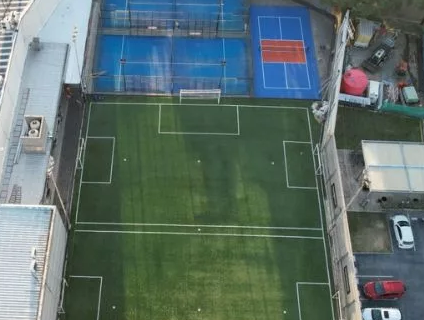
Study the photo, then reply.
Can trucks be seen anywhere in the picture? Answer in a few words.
Yes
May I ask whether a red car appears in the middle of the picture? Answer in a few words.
No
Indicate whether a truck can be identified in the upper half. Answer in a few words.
Yes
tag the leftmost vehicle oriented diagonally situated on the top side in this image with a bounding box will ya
[362,35,400,73]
